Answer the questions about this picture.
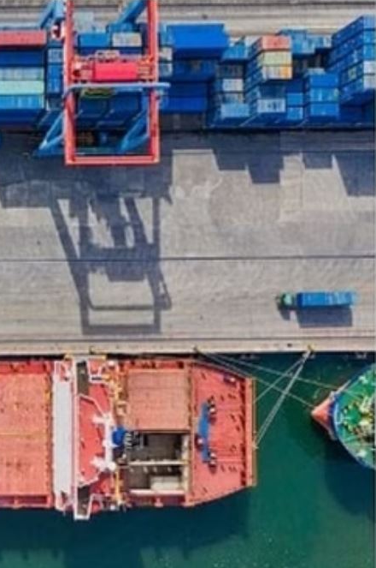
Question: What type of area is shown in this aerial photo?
port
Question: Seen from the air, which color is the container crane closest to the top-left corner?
red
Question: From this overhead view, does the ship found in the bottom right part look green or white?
green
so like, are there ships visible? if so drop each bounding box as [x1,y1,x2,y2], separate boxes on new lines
[0,352,256,520]
[315,362,376,476]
